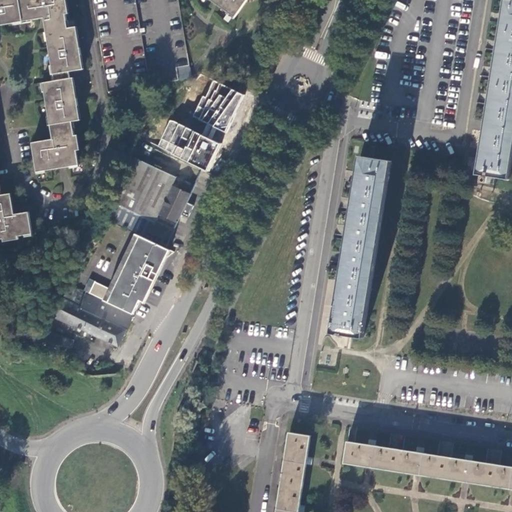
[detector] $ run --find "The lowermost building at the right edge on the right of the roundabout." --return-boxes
[342,439,512,488]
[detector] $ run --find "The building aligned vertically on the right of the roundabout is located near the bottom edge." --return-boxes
[276,432,314,512]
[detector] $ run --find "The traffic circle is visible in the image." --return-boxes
[31,418,164,512]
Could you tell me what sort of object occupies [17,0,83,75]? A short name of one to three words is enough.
building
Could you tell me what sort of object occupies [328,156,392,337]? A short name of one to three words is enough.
building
